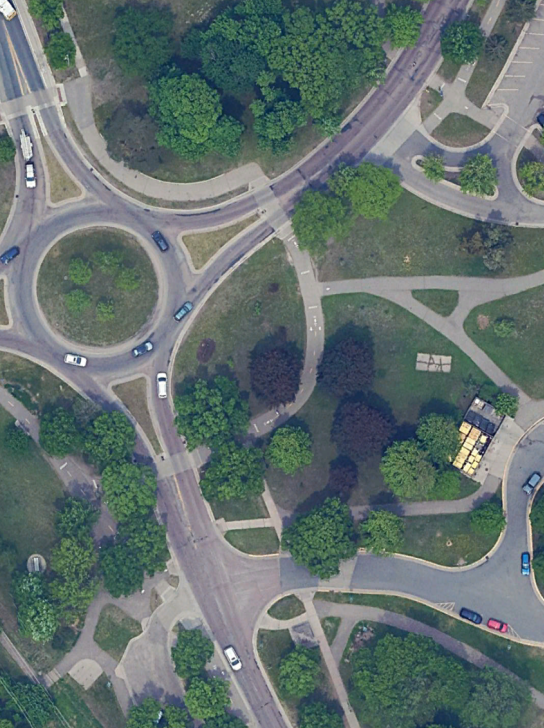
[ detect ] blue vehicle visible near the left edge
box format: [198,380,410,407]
[0,246,21,264]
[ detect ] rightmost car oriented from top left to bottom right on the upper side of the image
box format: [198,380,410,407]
[152,230,170,252]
